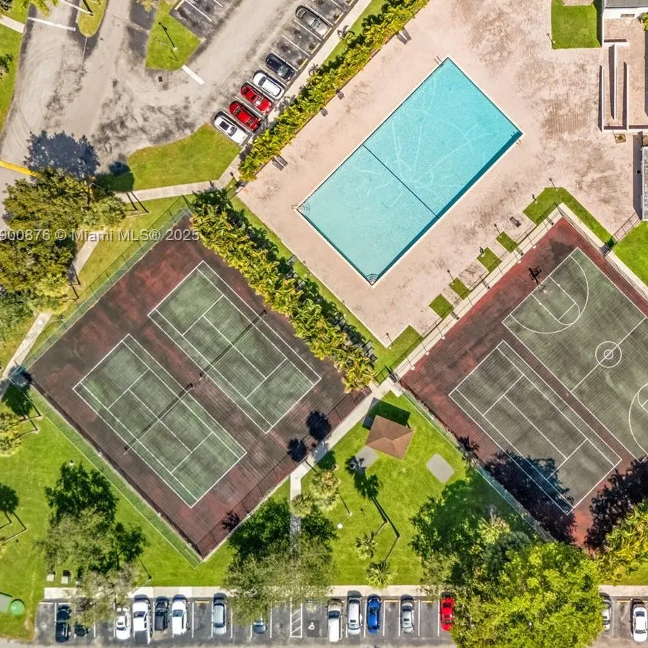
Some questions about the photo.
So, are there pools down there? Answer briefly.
Yes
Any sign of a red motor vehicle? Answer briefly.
Yes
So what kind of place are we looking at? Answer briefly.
sports ground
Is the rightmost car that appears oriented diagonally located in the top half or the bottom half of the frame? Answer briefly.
top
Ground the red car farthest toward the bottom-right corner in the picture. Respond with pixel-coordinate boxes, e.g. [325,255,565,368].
[439,595,455,628]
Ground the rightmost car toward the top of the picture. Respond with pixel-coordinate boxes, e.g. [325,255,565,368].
[296,5,329,34]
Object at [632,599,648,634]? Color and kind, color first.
white car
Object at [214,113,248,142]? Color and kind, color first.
white car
